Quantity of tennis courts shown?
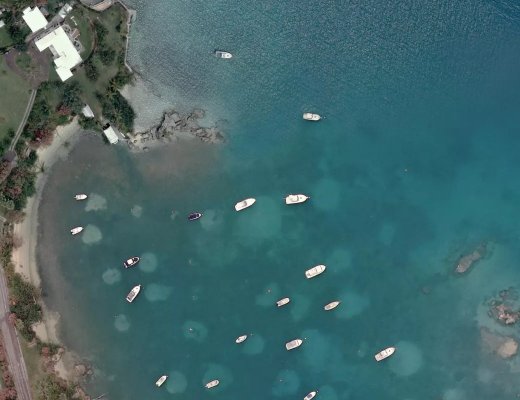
0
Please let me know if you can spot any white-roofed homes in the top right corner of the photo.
No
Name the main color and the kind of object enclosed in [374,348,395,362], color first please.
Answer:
white boat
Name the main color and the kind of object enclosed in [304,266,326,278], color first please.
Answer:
white boat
